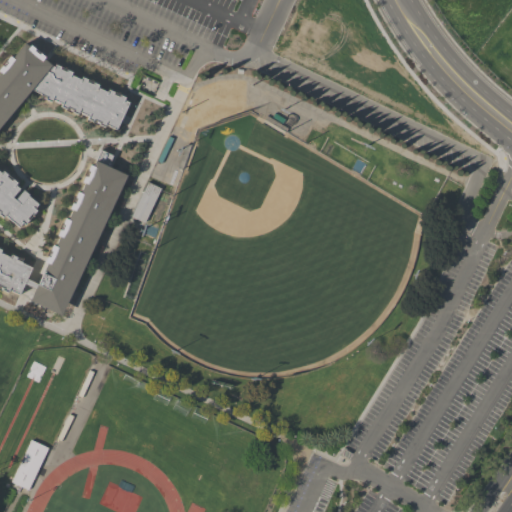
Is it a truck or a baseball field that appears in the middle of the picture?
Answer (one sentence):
The one visible in the middle of the picture is a baseball field.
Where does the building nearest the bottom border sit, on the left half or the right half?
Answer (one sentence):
You can find the building nearest the bottom border on the left side of the picture.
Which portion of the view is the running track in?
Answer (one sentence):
The running track appears toward the bottom left of the photo.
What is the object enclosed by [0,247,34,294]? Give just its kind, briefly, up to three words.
building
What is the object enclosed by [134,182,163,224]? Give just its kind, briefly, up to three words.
building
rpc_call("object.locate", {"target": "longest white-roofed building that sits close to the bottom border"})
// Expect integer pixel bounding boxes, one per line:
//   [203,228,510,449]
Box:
[14,440,50,490]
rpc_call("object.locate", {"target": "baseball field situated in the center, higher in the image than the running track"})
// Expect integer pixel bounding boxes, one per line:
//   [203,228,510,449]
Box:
[132,108,422,378]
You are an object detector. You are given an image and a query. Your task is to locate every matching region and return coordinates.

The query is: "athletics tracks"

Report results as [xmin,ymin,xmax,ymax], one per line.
[27,426,185,512]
